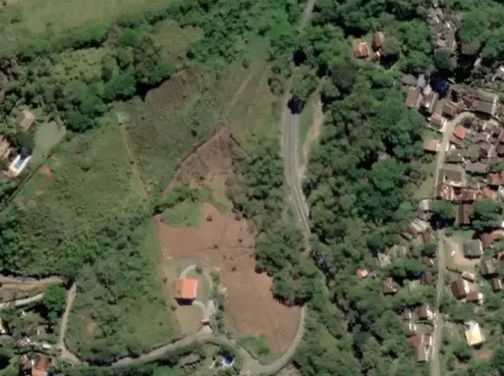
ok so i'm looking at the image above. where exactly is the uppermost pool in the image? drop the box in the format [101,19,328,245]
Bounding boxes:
[13,154,30,174]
